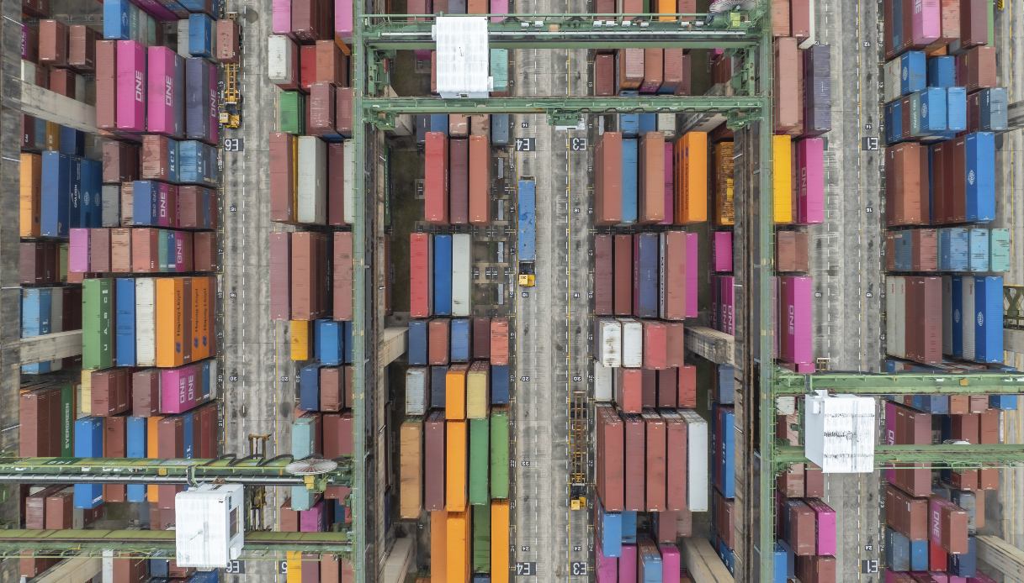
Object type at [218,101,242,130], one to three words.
truck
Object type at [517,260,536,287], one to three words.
vehicle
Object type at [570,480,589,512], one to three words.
vehicle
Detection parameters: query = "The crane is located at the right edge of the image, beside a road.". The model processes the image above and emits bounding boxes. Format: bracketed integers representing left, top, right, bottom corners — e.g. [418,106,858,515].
[767,364,1024,474]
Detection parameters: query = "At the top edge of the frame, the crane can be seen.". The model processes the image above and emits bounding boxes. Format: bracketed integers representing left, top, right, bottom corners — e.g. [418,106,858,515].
[356,0,768,139]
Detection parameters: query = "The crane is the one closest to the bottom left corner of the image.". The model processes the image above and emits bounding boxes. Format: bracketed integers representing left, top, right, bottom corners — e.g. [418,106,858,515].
[0,447,359,567]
